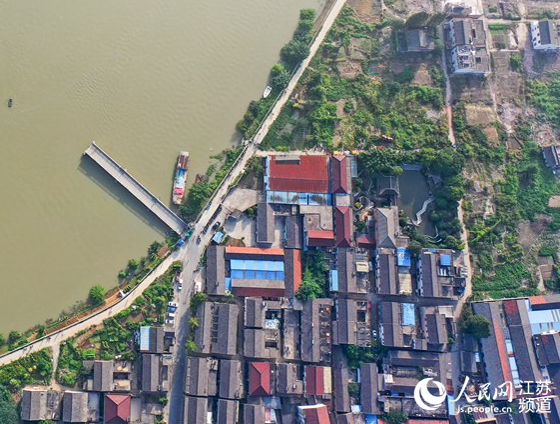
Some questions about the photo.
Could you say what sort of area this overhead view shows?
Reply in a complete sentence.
This looks like a residential area.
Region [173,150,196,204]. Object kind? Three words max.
ship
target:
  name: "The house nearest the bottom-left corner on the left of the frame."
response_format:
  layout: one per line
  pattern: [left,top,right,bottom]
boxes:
[21,389,42,421]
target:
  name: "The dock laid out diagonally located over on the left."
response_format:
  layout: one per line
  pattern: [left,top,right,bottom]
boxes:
[84,141,188,237]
